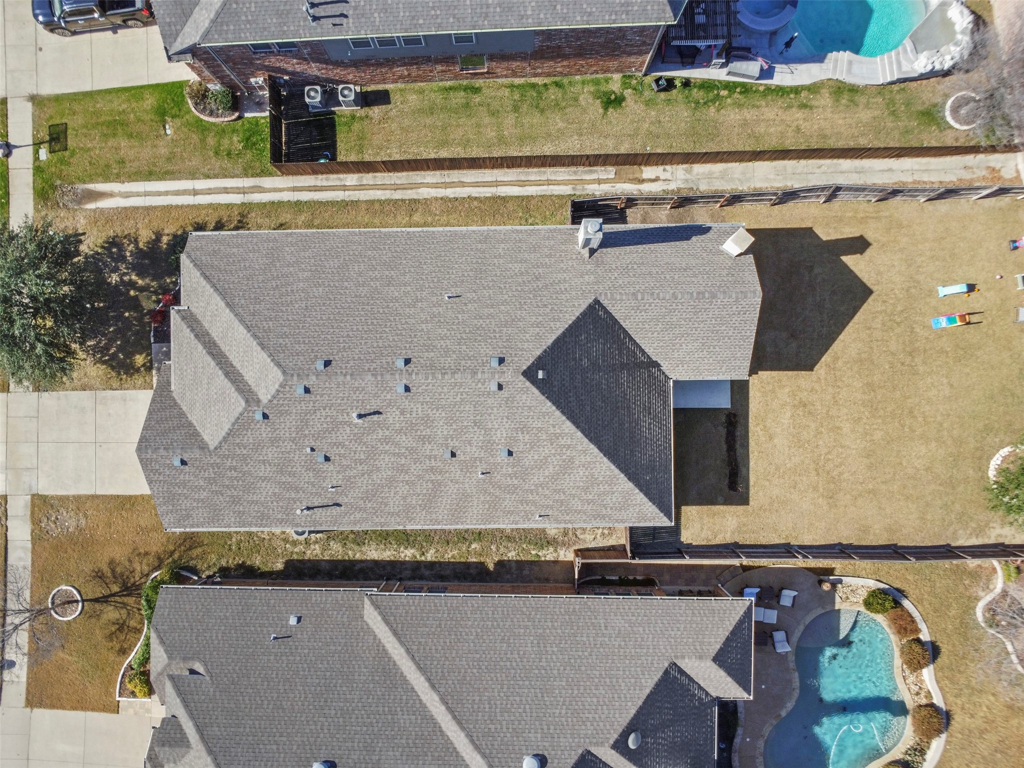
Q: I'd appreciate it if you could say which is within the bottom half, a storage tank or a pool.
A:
pool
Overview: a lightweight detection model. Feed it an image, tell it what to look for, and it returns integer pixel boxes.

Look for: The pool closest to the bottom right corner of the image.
[759,601,916,768]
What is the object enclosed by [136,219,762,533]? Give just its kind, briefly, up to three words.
house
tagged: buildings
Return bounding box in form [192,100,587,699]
[136,219,762,533]
[151,0,689,97]
[143,575,755,768]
